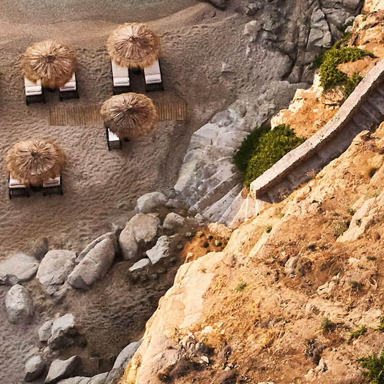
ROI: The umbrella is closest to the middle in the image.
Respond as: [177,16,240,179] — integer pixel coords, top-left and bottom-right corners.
[98,92,160,143]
